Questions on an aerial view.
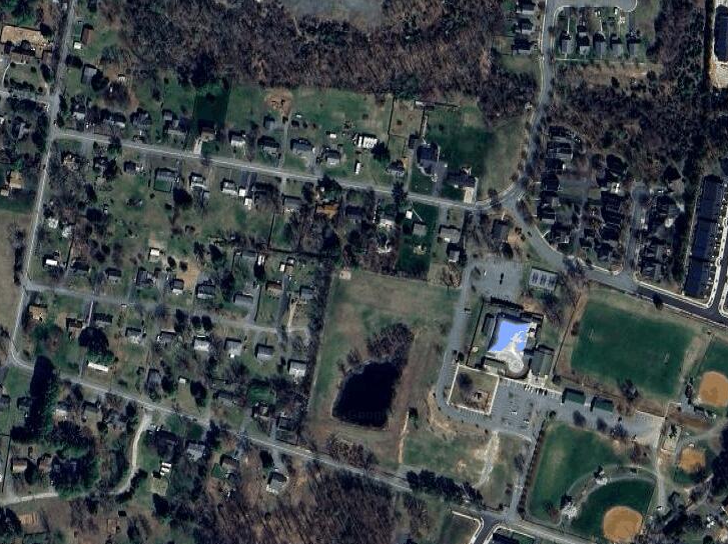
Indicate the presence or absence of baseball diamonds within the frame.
Yes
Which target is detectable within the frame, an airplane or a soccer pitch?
soccer pitch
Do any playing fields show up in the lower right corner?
Yes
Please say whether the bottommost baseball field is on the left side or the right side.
right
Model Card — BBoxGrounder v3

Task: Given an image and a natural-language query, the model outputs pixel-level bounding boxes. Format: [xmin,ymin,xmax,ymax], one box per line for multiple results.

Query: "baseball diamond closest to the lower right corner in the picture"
[676,445,707,484]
